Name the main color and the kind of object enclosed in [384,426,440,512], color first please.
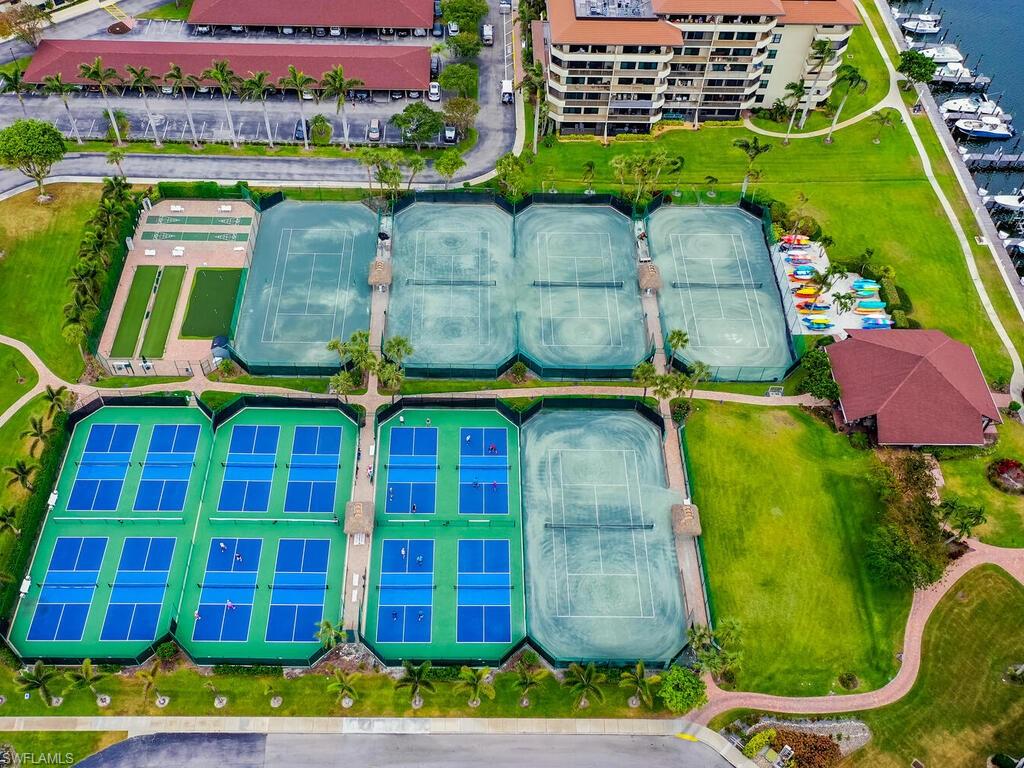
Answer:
blue sports court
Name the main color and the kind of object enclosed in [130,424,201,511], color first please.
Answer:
blue sports court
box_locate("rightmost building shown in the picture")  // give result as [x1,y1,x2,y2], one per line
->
[824,328,1004,449]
